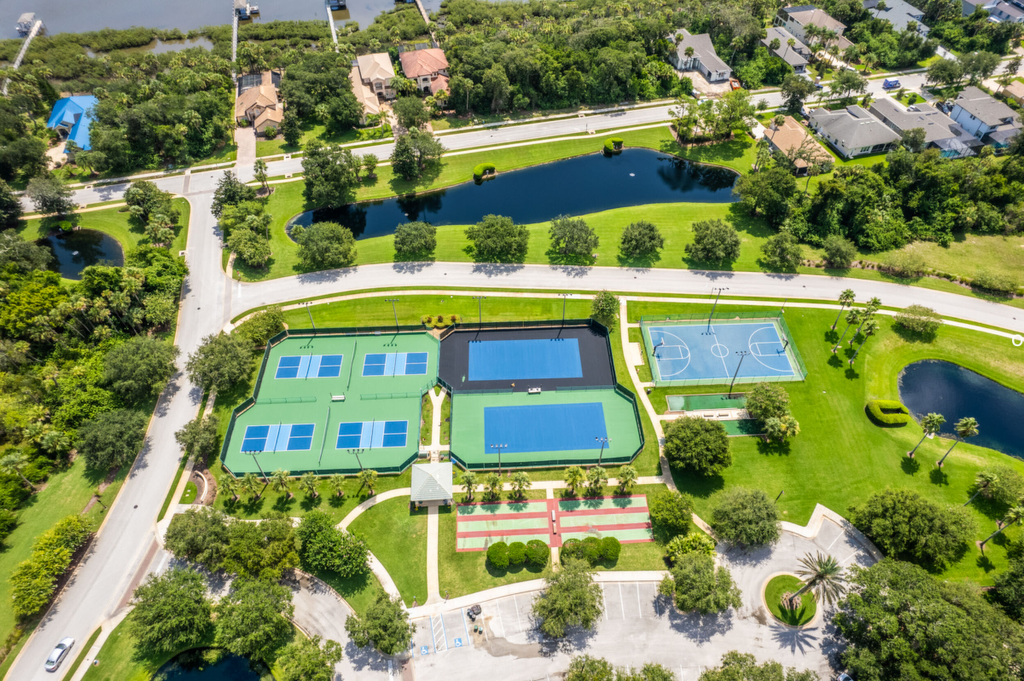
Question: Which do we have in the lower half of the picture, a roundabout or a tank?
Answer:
roundabout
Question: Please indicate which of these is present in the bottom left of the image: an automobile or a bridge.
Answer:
automobile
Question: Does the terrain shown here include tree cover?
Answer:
Yes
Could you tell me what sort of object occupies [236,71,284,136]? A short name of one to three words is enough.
house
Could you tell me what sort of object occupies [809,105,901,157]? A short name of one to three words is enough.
house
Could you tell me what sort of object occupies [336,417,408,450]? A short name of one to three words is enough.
sports court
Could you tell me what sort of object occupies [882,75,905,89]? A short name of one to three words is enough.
vehicle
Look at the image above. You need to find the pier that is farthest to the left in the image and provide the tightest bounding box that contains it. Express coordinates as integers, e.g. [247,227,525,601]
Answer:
[2,21,44,93]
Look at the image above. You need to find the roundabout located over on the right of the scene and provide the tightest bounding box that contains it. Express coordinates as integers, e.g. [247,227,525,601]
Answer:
[761,572,821,629]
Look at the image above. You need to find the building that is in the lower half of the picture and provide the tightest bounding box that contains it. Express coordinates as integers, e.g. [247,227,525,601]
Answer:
[411,462,453,508]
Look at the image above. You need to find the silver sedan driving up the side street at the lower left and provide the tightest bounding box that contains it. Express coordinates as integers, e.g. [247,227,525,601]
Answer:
[43,637,73,672]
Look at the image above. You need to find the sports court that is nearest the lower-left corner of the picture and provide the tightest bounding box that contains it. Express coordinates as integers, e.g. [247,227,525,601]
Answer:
[240,420,316,453]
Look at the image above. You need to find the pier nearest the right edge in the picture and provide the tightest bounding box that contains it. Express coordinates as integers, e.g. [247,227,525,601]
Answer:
[415,0,441,48]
